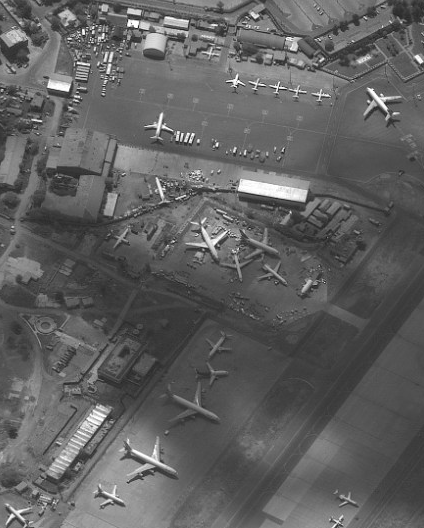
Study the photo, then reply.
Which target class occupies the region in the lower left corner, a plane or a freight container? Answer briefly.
plane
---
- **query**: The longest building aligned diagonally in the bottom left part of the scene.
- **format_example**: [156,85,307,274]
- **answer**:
[48,405,113,483]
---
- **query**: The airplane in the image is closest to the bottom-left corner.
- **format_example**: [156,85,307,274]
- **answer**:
[6,503,33,528]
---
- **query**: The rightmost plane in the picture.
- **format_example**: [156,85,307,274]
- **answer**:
[367,88,401,124]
